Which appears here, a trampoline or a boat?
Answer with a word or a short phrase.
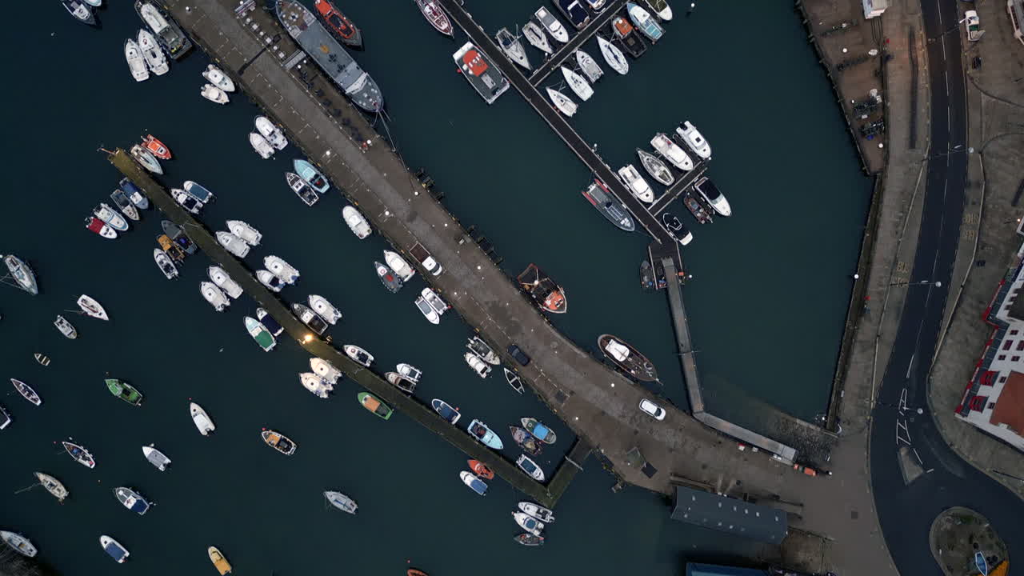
boat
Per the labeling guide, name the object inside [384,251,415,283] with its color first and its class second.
white boat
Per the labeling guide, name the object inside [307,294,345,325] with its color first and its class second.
white boat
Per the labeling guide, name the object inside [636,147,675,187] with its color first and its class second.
gray boat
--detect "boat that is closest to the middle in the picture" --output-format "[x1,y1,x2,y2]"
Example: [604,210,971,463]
[518,265,567,314]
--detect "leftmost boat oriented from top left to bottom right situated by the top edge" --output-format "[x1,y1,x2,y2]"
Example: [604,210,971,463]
[67,0,98,26]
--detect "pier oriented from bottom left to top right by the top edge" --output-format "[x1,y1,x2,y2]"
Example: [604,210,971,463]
[530,0,633,90]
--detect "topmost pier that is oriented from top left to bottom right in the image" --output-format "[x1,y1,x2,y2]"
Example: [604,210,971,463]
[436,0,676,245]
